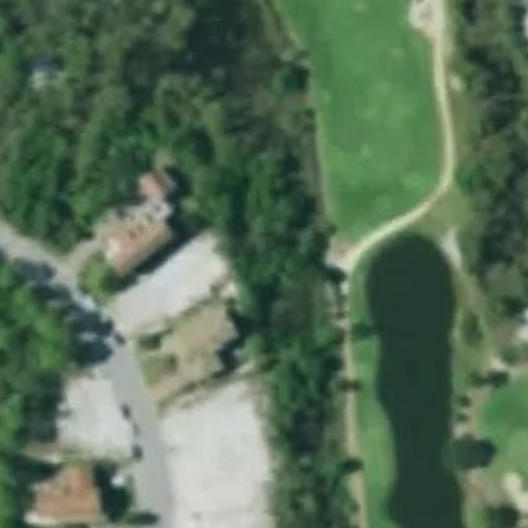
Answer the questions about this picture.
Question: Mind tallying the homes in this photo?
3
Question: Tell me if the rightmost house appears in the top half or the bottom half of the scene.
bottom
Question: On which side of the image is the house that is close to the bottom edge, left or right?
left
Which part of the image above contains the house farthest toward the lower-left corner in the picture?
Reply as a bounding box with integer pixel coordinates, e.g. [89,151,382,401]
[25,464,99,526]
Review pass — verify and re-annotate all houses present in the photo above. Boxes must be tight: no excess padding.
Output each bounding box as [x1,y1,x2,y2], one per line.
[25,464,99,526]
[99,193,170,268]
[163,308,240,386]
